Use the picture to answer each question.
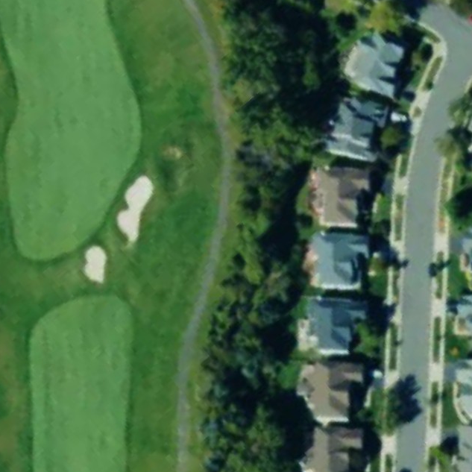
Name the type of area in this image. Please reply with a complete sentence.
This image shows a golf course.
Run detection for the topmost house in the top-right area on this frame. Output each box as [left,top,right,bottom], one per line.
[340,35,408,100]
